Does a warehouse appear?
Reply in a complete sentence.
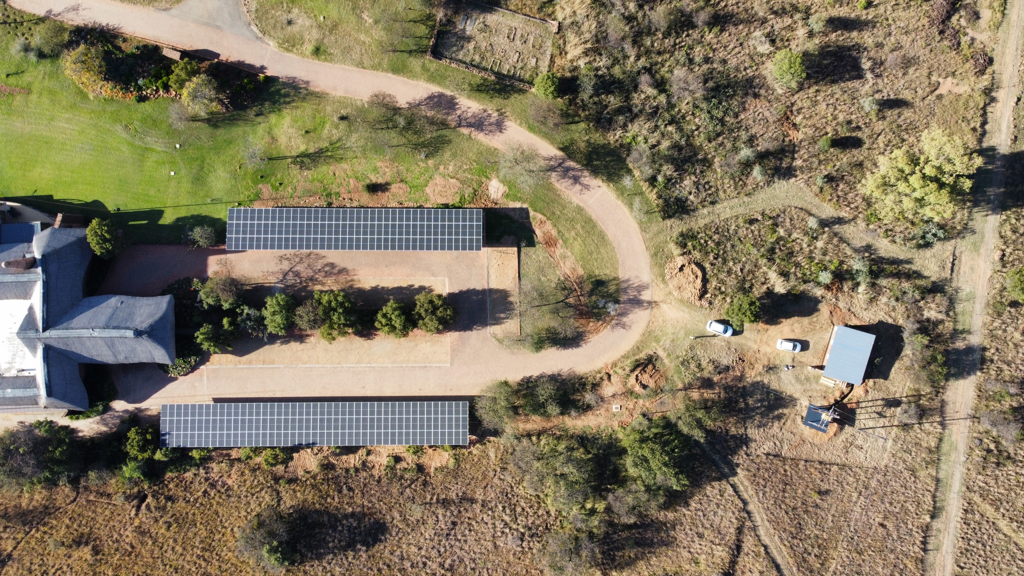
No, there appears to be no warehouse in this shot.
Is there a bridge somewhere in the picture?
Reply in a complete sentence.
No, there isn't any bridge down there.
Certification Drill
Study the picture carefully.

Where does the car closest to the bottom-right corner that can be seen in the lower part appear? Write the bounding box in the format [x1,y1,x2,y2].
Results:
[776,339,801,353]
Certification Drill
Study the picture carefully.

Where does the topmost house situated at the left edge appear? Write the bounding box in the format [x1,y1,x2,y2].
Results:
[0,216,176,413]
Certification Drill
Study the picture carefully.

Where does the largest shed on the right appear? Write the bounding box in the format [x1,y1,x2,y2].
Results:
[812,325,876,386]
